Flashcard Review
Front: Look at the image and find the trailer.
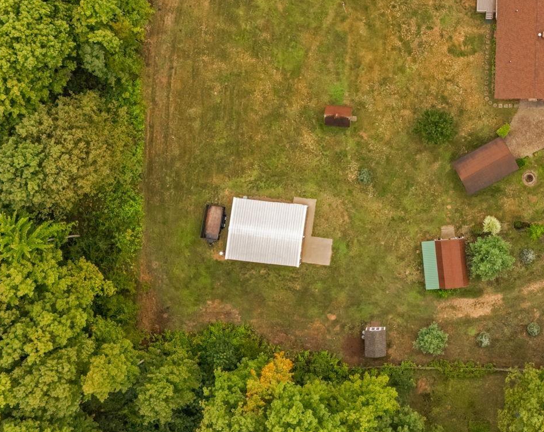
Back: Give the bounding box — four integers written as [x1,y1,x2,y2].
[201,203,224,245]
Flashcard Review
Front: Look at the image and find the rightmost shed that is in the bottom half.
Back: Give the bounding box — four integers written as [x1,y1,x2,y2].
[435,234,469,289]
